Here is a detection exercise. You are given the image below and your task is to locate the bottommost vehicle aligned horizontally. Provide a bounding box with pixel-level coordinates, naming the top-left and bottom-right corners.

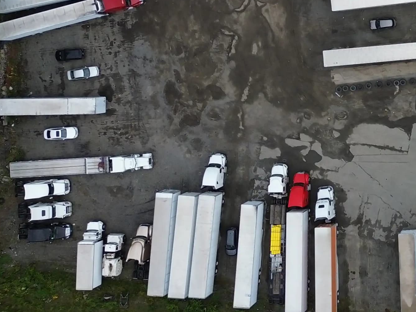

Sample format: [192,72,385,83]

[15,224,74,243]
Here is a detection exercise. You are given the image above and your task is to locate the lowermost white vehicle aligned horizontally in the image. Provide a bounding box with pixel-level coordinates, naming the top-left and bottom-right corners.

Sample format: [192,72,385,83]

[17,200,74,221]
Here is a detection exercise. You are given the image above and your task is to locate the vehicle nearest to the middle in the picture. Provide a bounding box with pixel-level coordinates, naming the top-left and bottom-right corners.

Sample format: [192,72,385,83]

[205,153,230,200]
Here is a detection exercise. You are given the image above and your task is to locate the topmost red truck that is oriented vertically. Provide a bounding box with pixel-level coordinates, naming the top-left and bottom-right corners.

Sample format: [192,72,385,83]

[289,171,313,219]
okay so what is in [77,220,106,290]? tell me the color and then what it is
white truck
